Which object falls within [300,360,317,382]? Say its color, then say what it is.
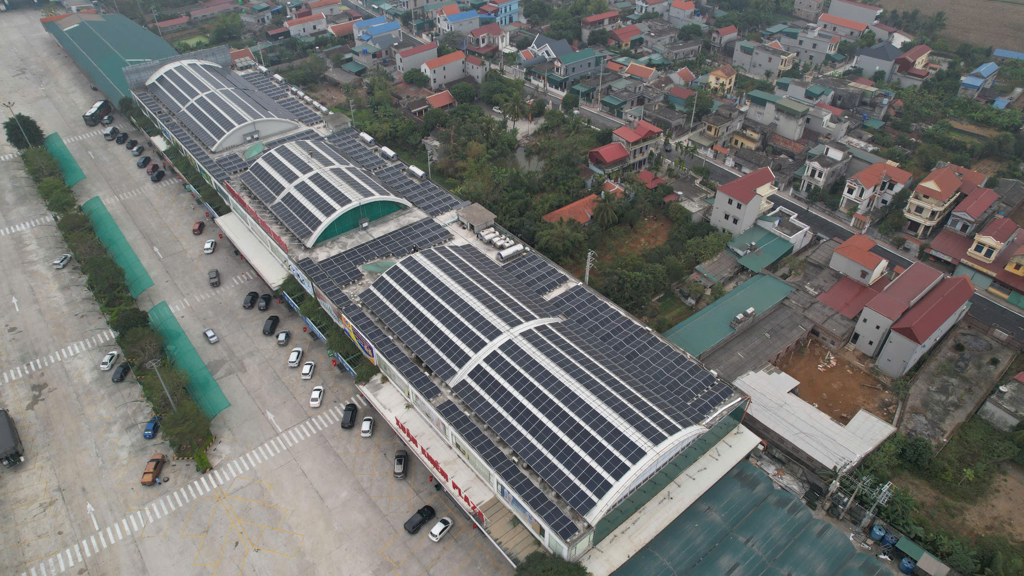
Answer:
white car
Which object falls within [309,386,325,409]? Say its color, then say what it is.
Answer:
white car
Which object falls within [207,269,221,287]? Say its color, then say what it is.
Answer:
gray car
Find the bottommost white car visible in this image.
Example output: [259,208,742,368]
[428,515,455,544]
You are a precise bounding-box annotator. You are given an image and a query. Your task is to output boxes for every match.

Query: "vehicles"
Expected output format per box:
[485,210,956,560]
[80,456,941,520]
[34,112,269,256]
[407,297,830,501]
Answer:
[202,240,218,254]
[87,100,110,123]
[300,360,317,382]
[110,362,133,383]
[125,140,139,149]
[151,171,167,182]
[136,155,152,168]
[361,416,376,438]
[141,415,165,440]
[257,294,273,311]
[102,116,114,124]
[0,415,23,473]
[404,504,435,536]
[262,315,280,336]
[287,348,305,368]
[393,451,409,479]
[275,329,292,348]
[104,127,119,138]
[309,386,325,409]
[115,134,129,143]
[341,404,358,428]
[99,351,122,371]
[131,146,145,156]
[140,454,167,485]
[243,292,259,309]
[192,222,206,235]
[207,269,221,287]
[428,515,455,544]
[146,165,160,175]
[664,143,673,153]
